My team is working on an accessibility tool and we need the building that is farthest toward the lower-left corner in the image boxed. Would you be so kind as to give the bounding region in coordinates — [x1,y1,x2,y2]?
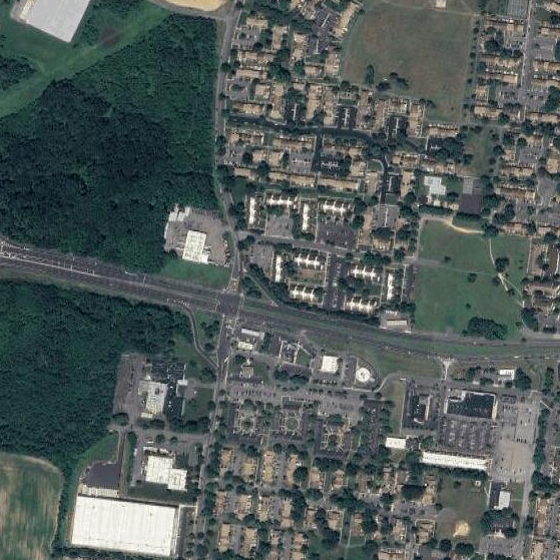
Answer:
[71,495,177,556]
